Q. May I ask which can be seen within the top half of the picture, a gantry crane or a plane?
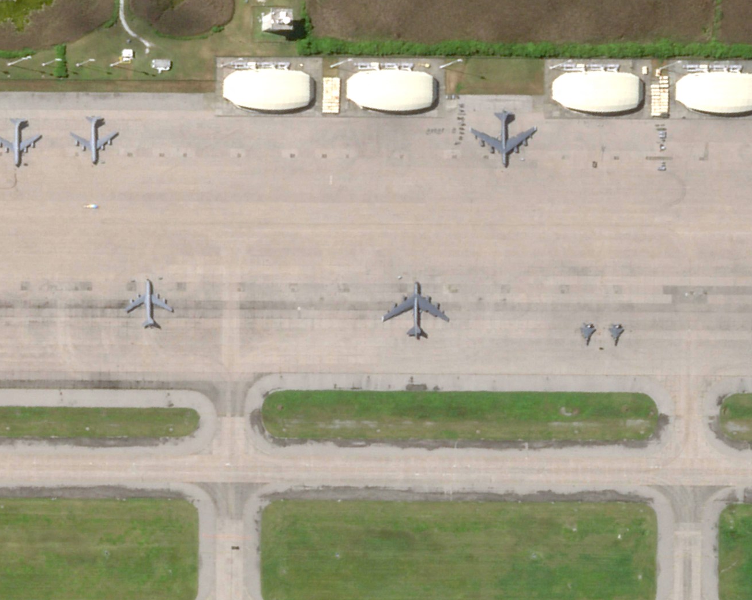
plane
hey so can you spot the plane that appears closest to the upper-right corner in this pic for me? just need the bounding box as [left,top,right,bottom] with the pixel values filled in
[472,109,538,165]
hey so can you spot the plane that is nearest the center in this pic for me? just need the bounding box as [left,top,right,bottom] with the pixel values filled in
[383,282,450,336]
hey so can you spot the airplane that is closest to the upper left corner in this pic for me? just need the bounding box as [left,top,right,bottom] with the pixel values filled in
[0,117,41,166]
